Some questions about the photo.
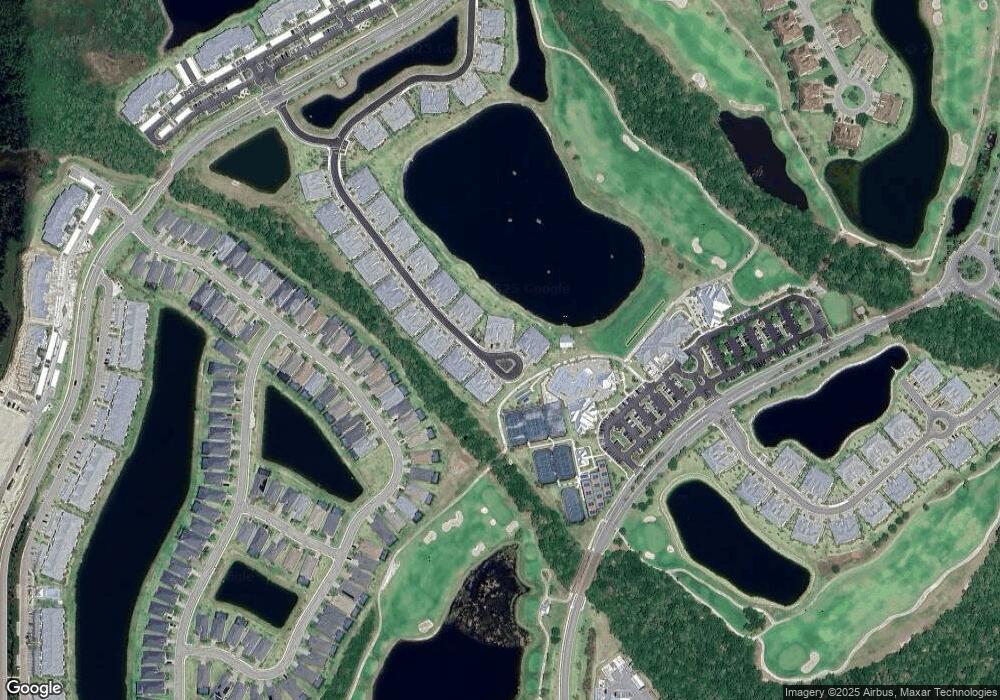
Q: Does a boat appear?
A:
No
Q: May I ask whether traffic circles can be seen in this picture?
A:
Yes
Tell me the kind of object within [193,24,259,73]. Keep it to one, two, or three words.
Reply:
building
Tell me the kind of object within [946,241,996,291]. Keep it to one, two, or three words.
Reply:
roundabout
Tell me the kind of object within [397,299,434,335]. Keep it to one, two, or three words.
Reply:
house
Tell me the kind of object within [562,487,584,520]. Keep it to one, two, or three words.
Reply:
tennis court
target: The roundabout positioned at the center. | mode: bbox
[483,351,522,380]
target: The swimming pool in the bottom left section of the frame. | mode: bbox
[37,587,60,602]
